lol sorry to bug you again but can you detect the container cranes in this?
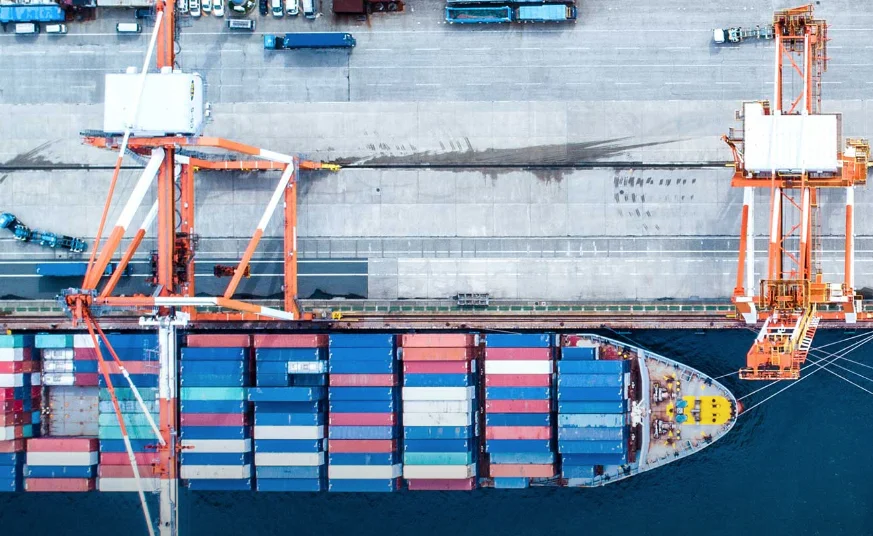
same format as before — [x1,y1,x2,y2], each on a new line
[61,0,341,536]
[719,0,873,380]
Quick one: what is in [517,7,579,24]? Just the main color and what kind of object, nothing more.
blue trailer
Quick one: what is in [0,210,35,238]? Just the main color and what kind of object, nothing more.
blue truck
